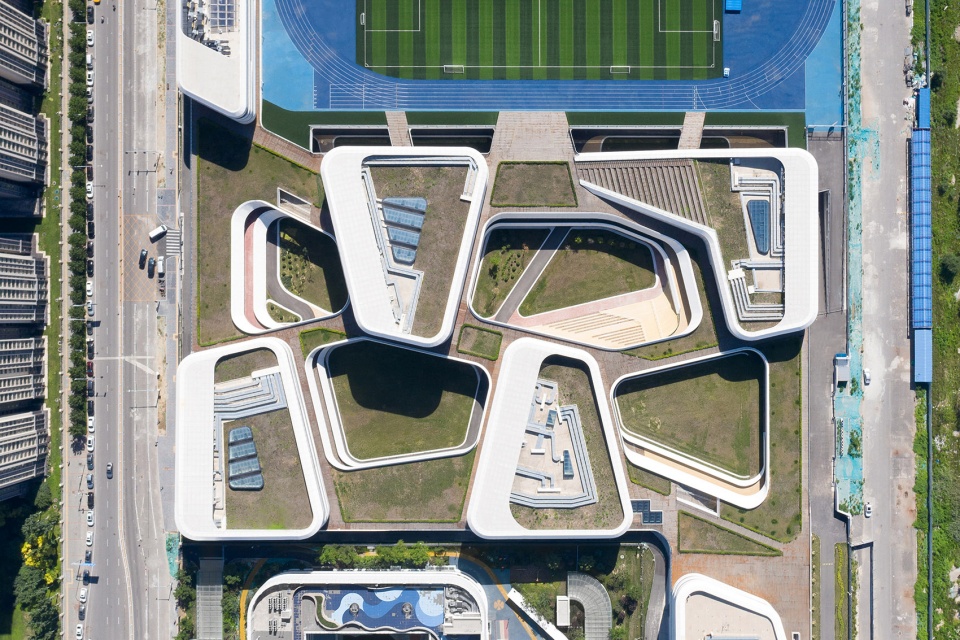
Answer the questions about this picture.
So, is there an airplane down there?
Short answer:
No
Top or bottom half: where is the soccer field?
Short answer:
top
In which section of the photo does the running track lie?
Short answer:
top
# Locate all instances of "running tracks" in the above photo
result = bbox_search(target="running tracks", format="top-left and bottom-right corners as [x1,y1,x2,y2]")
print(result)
[263,0,844,152]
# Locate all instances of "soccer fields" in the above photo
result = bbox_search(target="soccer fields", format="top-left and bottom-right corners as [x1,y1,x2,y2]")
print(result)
[356,0,723,81]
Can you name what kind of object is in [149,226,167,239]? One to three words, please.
vehicle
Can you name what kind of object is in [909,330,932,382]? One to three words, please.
shed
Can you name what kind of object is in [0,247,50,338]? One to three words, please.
building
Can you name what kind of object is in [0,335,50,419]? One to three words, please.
building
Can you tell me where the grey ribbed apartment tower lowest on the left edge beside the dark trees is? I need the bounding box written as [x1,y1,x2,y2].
[0,410,50,498]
